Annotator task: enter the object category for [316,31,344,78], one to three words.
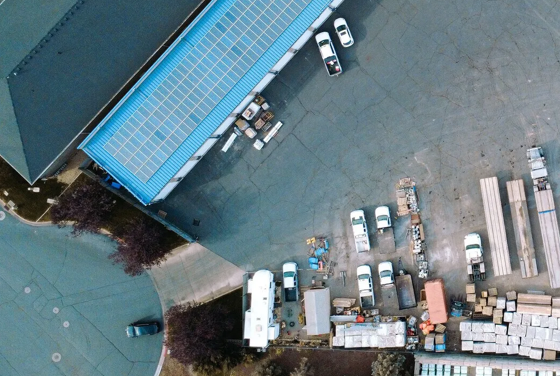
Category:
truck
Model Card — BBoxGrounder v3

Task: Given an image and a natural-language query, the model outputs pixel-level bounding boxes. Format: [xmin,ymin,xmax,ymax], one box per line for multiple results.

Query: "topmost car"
[334,18,354,48]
